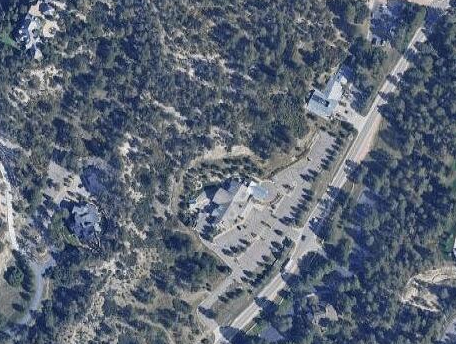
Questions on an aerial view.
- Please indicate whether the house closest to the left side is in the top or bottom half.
top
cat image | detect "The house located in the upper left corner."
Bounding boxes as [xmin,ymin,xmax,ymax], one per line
[19,4,54,52]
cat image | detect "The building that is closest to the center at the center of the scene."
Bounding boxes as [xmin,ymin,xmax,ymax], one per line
[195,177,269,231]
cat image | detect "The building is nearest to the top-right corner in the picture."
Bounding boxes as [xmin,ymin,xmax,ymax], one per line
[307,73,349,117]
